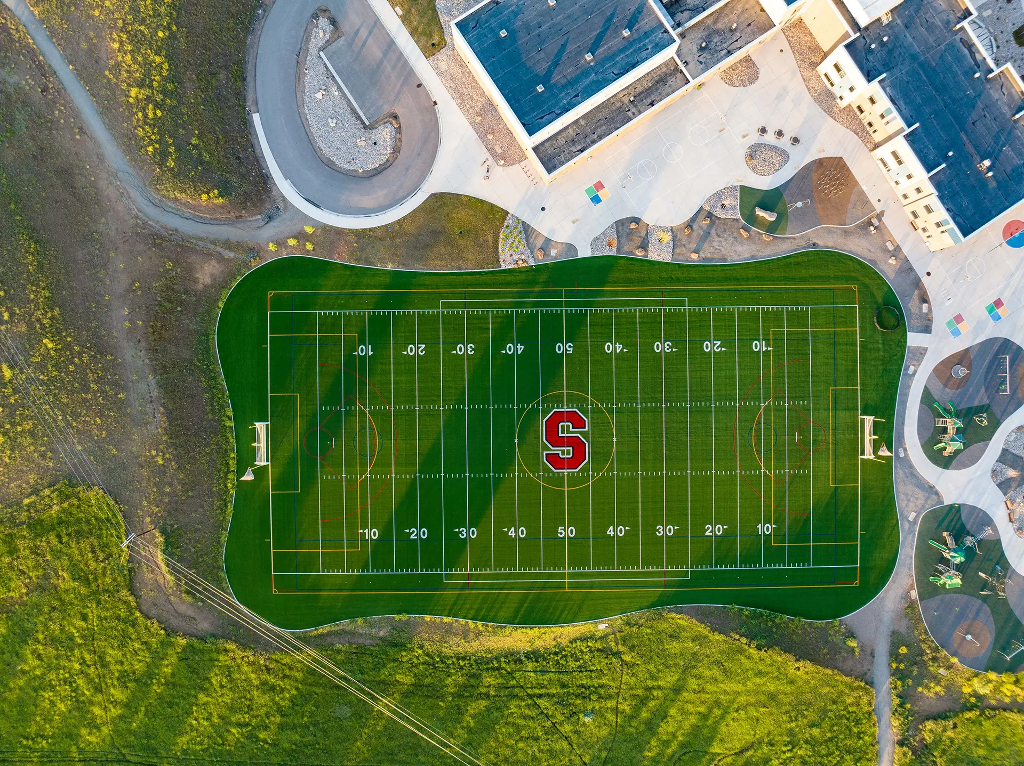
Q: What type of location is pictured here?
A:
sports ground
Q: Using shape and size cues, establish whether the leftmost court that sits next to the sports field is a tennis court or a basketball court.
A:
basketball court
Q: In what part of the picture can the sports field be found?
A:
center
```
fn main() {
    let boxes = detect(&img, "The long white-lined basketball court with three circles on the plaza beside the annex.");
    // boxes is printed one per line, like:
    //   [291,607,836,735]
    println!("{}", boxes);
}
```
[606,94,741,211]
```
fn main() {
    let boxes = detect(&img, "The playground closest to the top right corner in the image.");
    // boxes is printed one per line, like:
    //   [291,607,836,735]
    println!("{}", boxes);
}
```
[813,157,858,226]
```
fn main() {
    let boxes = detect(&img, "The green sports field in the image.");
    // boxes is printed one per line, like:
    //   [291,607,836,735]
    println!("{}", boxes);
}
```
[216,248,908,632]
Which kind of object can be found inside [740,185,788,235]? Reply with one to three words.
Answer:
playground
